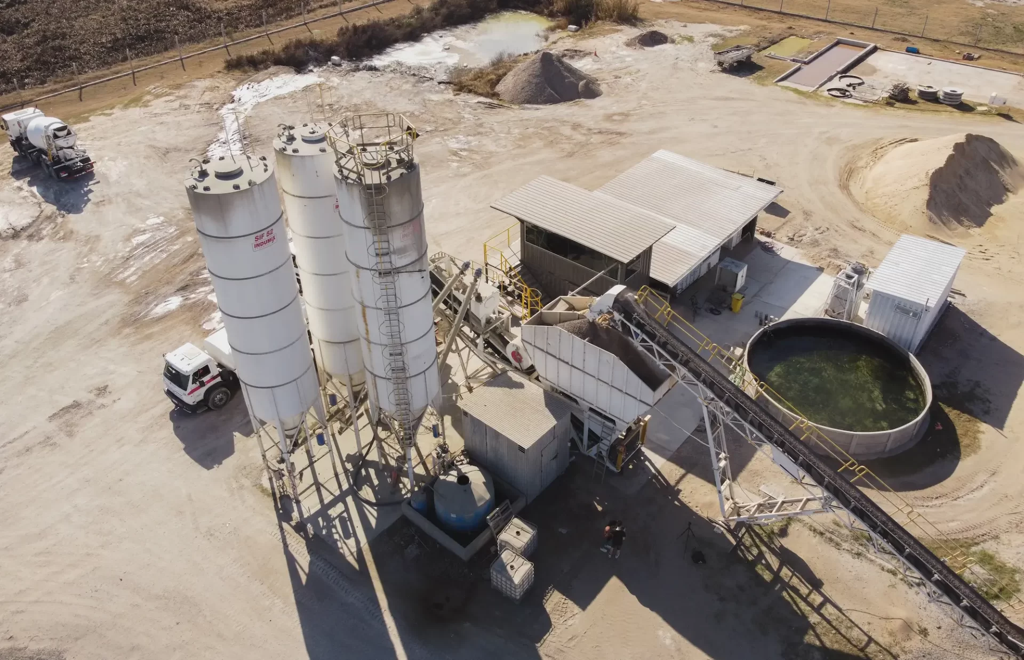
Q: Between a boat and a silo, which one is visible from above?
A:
silo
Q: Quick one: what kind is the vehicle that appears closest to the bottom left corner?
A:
truck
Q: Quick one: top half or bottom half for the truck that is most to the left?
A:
top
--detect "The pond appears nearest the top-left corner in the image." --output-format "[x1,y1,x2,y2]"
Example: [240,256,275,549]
[445,11,554,71]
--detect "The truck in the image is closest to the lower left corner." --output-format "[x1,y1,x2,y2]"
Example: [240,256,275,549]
[160,334,243,417]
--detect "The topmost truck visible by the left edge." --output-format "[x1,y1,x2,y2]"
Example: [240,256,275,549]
[0,104,94,178]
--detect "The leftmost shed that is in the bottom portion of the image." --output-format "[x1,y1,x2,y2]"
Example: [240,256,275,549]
[459,370,575,495]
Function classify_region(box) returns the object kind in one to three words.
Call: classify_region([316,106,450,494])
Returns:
silo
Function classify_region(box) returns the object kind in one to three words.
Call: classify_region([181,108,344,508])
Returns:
silo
